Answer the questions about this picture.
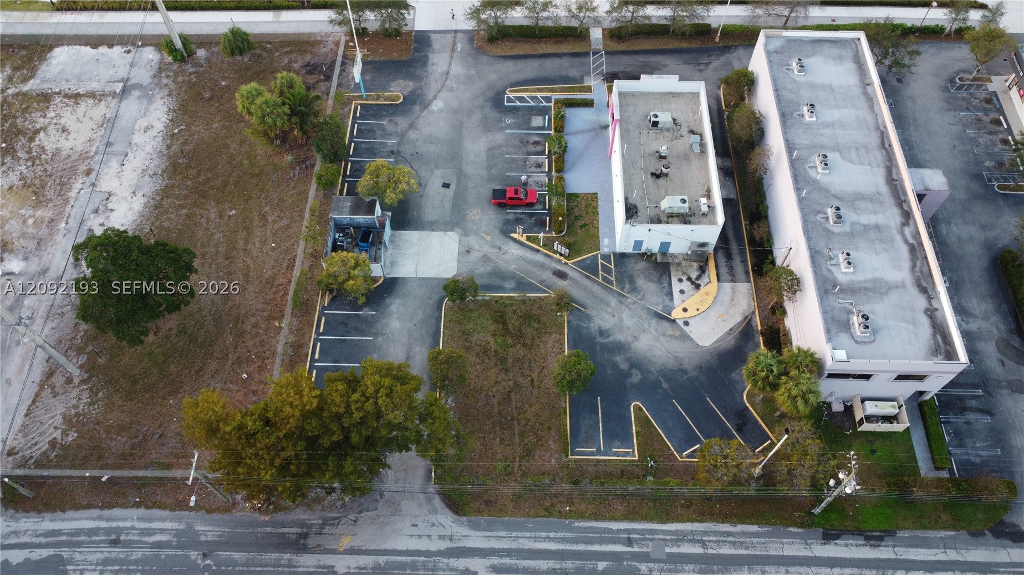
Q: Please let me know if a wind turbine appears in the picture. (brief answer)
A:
No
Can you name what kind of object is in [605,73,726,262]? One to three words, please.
building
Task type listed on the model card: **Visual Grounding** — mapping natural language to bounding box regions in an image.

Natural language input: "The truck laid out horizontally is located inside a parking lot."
[492,186,538,208]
